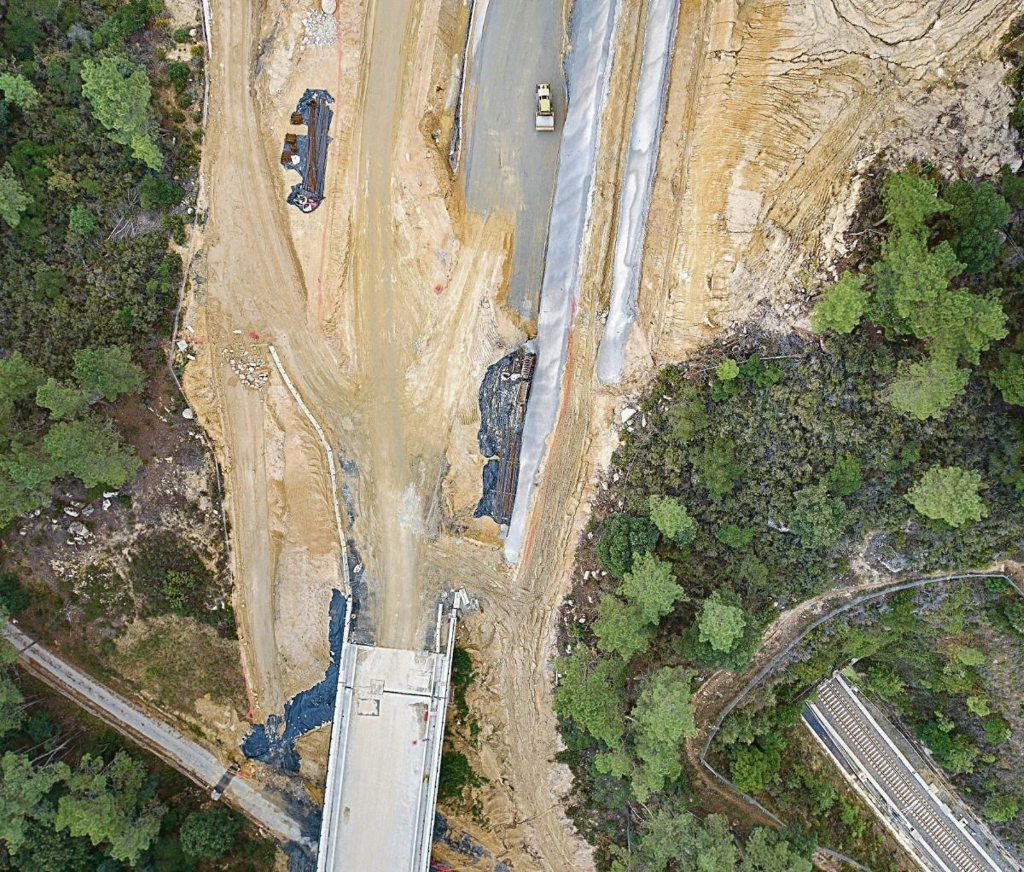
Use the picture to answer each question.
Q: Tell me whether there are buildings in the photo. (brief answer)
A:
No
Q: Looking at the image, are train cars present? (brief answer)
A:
No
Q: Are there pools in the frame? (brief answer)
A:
No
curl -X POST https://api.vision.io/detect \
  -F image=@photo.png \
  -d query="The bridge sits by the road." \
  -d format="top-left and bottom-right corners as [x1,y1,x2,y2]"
[318,640,452,872]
